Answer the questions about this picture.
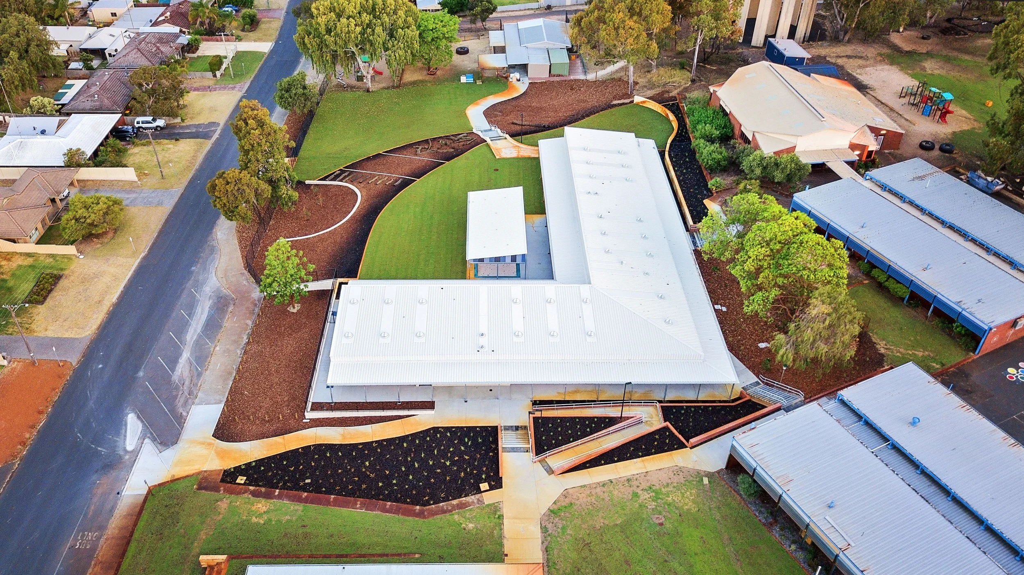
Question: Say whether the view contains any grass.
Yes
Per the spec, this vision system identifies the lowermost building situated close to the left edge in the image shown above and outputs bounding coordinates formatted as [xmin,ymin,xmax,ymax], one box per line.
[0,167,80,252]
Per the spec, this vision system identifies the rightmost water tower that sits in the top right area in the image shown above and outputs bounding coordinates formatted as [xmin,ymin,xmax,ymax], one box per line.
[737,0,824,46]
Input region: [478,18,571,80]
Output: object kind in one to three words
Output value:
building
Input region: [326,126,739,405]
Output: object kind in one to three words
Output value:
building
